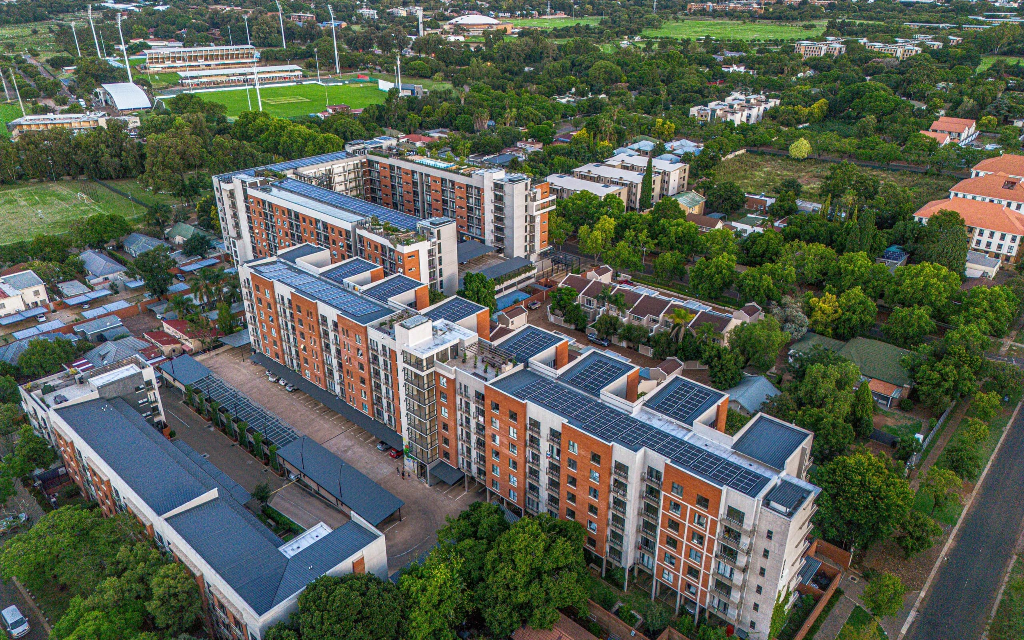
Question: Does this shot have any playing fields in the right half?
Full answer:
No, the scene shows no playing field in the right half.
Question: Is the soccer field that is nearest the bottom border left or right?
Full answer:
The soccer field that is nearest the bottom border is on the left side of the image.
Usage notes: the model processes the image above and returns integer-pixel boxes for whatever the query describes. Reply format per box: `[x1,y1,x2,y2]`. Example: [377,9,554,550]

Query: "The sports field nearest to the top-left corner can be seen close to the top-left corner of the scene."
[133,61,181,89]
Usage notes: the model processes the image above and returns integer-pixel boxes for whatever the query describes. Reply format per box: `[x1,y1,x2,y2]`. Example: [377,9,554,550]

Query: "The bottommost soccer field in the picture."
[0,173,144,245]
